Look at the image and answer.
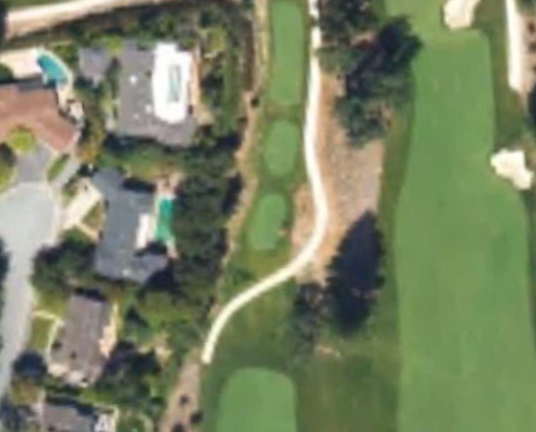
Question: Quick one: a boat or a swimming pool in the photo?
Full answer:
The one in the frame is a swimming pool.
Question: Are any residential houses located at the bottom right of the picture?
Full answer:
No, no residential house can be made out at the bottom right of the picture.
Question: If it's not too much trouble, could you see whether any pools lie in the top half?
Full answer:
Yes, a pool appears in the top half.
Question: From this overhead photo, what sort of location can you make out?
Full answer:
It's a golf course.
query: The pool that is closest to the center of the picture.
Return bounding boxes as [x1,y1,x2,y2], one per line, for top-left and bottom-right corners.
[154,197,177,241]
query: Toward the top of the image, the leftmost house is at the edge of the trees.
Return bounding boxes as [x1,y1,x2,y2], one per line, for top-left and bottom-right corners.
[0,80,77,154]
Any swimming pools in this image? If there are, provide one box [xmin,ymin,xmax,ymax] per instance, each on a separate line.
[154,197,177,241]
[167,64,182,101]
[36,54,70,85]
